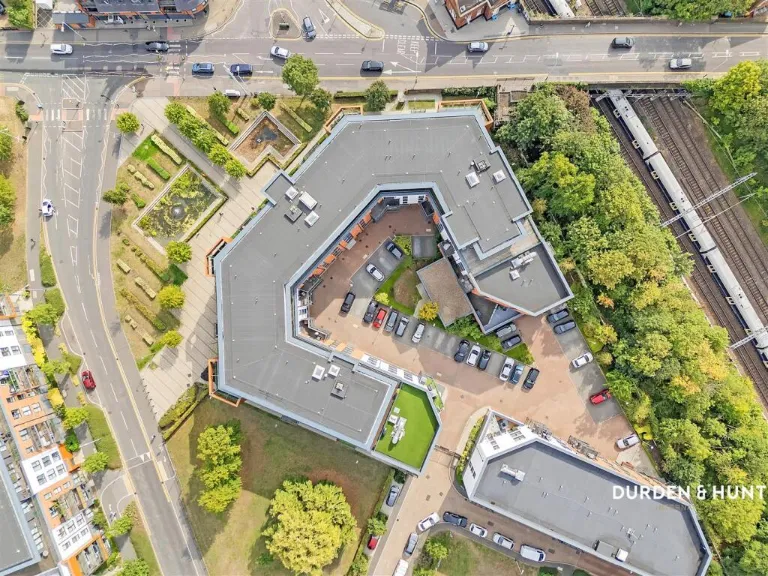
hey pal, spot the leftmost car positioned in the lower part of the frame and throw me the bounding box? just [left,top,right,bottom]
[80,370,97,392]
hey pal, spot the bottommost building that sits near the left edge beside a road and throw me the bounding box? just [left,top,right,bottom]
[0,284,122,576]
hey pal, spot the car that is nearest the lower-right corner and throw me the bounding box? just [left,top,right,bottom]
[616,434,640,449]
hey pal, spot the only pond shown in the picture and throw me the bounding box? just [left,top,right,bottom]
[132,165,226,252]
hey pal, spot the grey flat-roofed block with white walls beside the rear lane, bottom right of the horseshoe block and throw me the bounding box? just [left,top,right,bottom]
[464,409,711,576]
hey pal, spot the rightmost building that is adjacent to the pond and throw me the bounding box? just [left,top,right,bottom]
[206,100,574,476]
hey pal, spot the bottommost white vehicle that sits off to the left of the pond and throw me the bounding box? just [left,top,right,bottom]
[40,197,54,219]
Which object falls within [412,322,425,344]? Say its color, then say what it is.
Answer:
white vehicle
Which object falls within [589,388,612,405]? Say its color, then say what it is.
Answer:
red car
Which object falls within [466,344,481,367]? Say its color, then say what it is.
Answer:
white car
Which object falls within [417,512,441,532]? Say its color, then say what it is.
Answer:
white car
